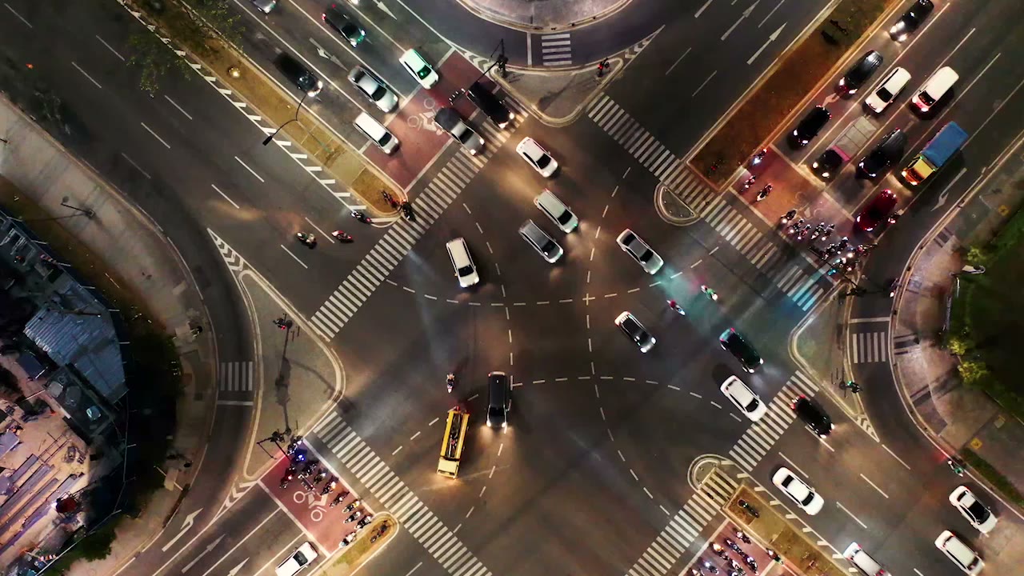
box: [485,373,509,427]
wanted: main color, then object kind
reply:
black car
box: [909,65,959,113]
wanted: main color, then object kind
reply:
white car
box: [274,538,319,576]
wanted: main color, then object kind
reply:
white car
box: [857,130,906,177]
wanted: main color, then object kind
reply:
black car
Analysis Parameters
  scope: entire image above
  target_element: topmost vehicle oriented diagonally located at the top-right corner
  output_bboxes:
[887,0,935,42]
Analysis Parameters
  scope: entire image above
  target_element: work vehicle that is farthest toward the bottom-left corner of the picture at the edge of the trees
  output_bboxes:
[53,489,103,518]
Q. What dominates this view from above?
paved ground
